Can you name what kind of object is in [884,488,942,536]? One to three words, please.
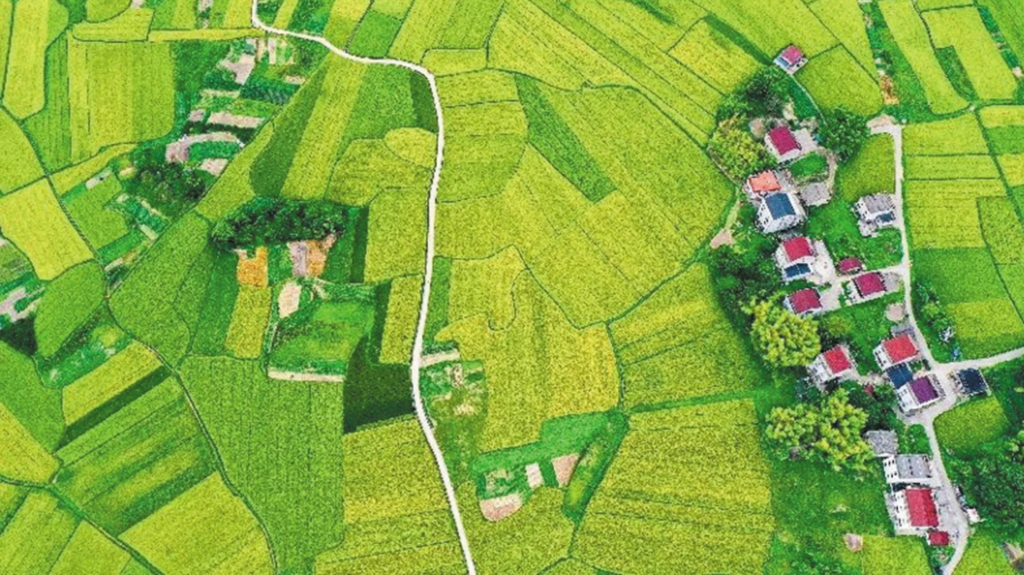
house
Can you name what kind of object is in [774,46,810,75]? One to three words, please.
house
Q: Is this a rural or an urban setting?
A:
rural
